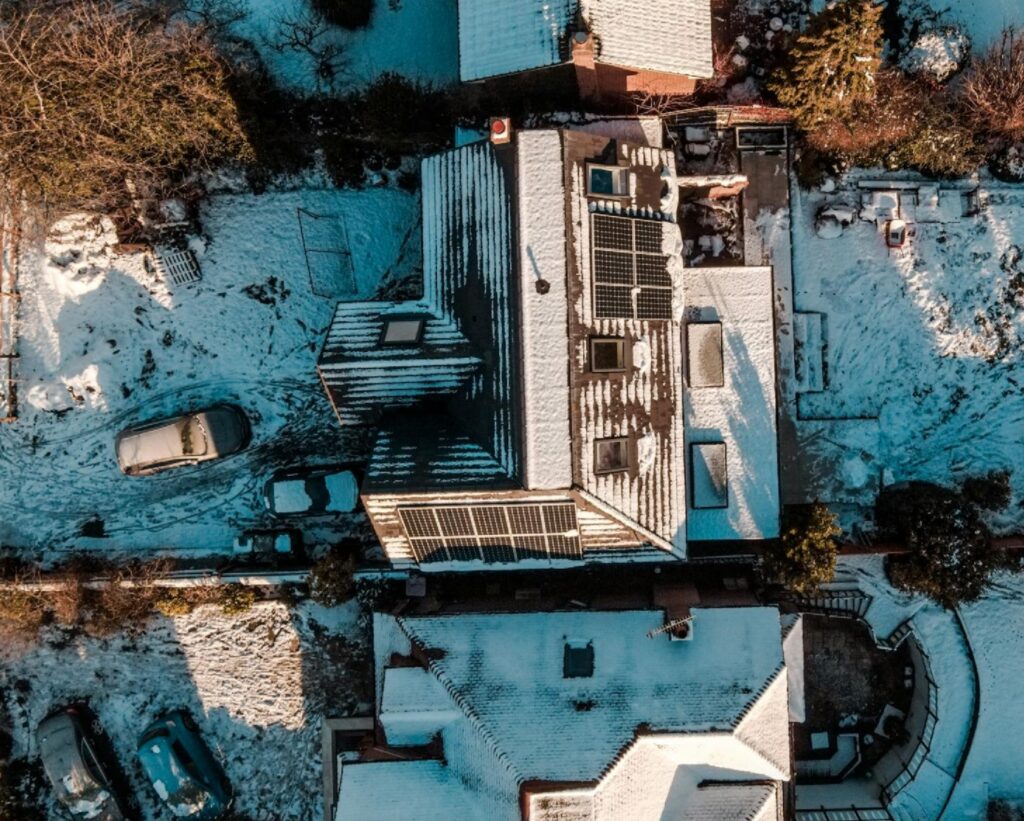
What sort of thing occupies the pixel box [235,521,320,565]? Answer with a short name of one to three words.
trailer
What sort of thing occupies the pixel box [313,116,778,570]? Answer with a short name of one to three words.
house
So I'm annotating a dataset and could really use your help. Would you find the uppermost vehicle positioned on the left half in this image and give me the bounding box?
[116,402,261,478]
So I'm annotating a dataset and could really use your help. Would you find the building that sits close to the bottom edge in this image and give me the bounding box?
[333,546,804,821]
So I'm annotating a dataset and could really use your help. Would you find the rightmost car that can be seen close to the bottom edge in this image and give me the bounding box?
[141,708,238,821]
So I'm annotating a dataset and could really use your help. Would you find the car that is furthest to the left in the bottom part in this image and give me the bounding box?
[37,700,137,821]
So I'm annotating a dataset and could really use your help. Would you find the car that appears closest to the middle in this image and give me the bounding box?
[267,463,366,522]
